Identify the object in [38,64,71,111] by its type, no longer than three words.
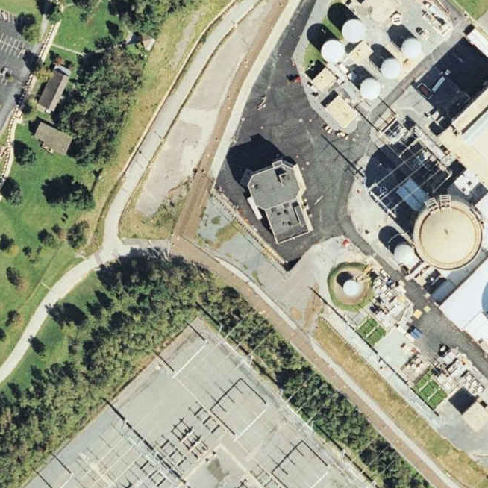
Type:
house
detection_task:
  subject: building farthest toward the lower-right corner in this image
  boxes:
[463,398,488,431]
